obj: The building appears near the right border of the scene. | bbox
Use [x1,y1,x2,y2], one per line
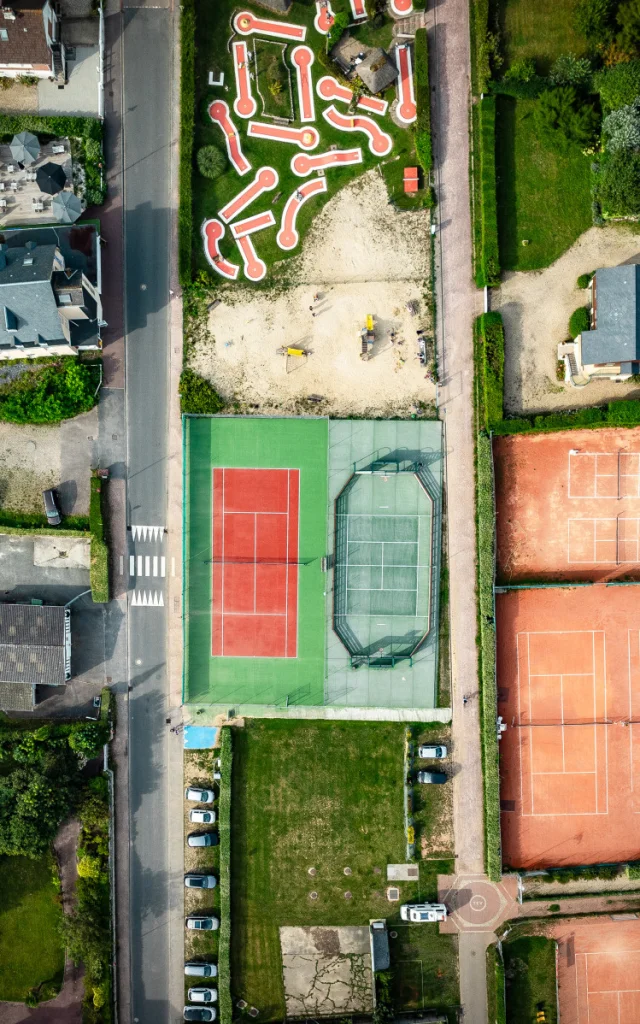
[557,261,640,384]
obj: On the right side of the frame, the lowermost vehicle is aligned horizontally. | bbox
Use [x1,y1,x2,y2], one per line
[400,900,448,921]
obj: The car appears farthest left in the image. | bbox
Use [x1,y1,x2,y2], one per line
[43,489,64,526]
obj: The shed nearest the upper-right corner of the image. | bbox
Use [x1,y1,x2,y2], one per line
[356,48,399,96]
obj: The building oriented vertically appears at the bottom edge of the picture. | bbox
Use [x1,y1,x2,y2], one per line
[371,917,389,1018]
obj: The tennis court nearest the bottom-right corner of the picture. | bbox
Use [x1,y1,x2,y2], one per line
[557,915,640,1024]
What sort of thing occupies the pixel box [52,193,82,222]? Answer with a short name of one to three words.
umbrella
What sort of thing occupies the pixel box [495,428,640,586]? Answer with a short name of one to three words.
tennis court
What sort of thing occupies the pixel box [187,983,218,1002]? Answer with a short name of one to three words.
car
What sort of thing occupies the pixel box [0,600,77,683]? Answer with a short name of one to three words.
building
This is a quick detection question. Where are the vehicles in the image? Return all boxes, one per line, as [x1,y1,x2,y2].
[184,871,217,890]
[418,742,447,759]
[400,900,448,921]
[417,768,448,785]
[185,912,220,932]
[184,958,218,978]
[187,983,218,1002]
[188,806,217,824]
[183,1001,217,1021]
[43,489,64,526]
[185,784,216,803]
[187,829,219,847]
